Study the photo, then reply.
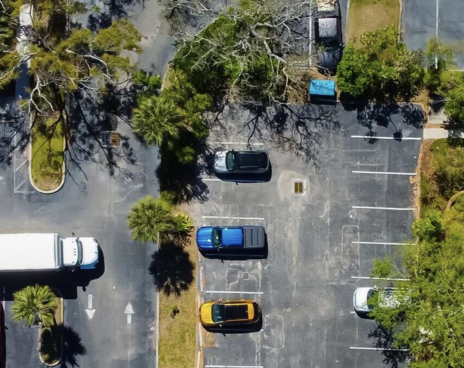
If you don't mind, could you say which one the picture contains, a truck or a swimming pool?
truck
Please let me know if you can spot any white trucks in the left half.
Yes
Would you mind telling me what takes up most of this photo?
paved ground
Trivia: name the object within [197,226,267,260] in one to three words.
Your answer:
truck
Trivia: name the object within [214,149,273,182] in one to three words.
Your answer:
car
